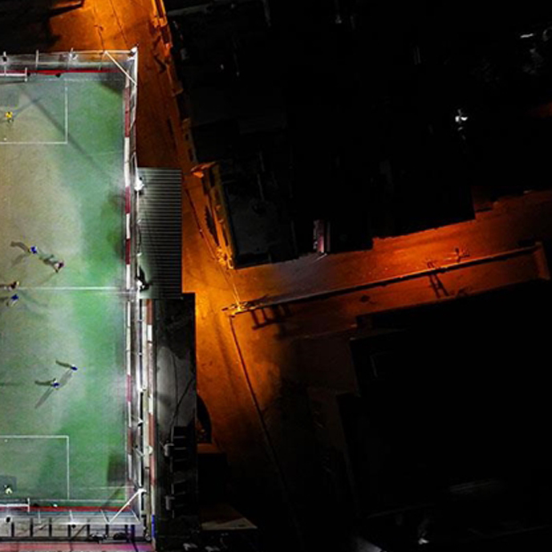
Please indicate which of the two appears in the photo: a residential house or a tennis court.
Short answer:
residential house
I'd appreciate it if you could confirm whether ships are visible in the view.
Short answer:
No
